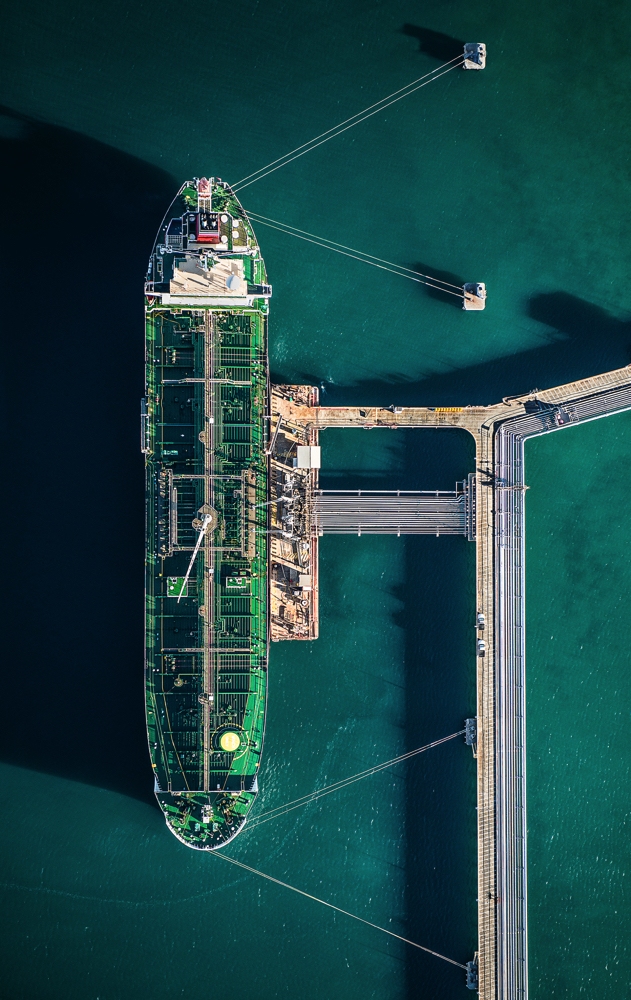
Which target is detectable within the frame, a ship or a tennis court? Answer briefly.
ship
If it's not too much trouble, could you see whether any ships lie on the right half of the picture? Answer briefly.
No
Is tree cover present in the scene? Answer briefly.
No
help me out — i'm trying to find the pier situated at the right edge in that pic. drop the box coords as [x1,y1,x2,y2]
[474,365,631,1000]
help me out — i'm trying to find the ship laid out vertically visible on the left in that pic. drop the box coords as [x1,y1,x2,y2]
[141,177,272,853]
